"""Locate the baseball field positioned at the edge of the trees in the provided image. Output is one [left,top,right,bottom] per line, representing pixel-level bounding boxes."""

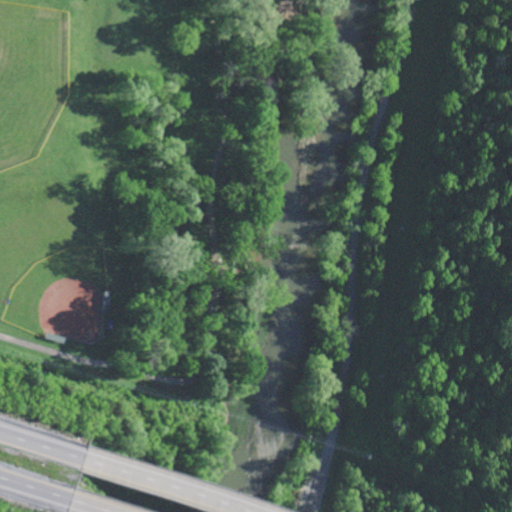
[2,248,107,344]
